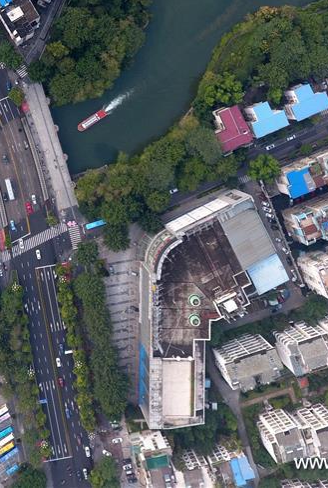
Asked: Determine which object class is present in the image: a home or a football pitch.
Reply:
home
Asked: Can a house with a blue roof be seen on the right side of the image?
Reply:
Yes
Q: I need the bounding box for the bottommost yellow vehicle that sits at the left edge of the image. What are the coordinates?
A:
[0,441,16,456]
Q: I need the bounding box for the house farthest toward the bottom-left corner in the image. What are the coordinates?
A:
[133,423,175,488]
